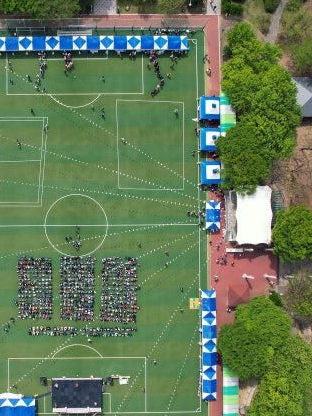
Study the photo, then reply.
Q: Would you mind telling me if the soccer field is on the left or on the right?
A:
left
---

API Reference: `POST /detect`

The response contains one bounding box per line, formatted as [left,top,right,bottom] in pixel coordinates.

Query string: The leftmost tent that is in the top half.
[0,36,26,53]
